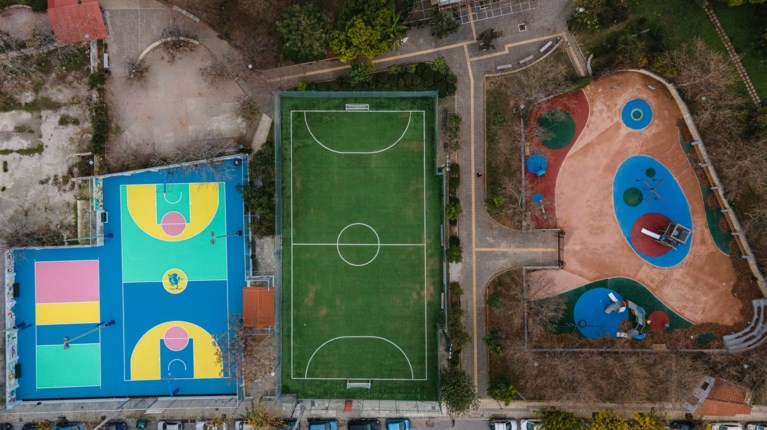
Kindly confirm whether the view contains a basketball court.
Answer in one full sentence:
Yes, you can see a basketball court in this photo.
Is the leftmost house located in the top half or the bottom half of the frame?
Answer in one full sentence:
The leftmost house sits in the top half of the picture.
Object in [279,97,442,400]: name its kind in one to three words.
soccer field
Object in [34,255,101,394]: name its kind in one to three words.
sports court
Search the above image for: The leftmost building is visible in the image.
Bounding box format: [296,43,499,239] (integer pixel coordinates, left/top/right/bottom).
[47,0,108,45]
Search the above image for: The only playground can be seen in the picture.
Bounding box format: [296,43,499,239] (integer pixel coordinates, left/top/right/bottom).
[527,70,743,345]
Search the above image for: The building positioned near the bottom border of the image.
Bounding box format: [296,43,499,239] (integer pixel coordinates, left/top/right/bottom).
[682,376,754,416]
